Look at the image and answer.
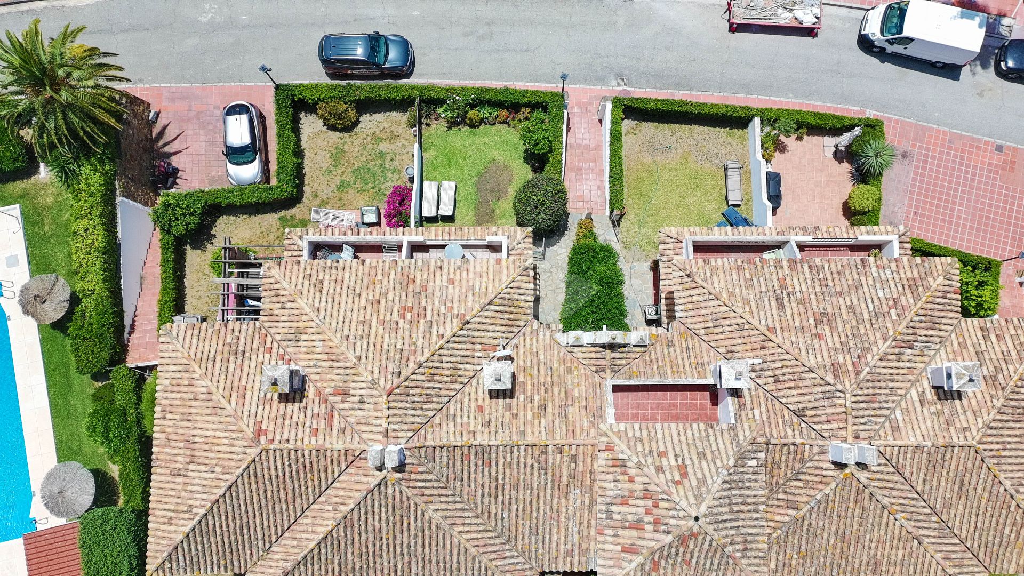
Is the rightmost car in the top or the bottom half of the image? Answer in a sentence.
The top half of the photo is where the rightmost car is.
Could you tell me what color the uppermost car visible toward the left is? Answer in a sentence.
The uppermost car visible toward the left looks blue in the image.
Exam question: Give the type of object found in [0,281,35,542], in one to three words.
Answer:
swimming pool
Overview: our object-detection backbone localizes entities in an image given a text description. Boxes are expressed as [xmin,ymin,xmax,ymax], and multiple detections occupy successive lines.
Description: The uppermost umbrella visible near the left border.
[18,272,74,327]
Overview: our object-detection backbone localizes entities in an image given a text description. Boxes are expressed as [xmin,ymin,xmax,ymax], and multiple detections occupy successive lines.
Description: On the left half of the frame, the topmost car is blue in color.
[317,30,415,81]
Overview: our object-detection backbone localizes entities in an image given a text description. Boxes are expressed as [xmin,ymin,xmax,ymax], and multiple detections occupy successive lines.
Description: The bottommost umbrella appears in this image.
[35,461,94,522]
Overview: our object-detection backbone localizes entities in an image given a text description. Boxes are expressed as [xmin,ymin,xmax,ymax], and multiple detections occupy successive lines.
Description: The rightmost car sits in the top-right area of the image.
[991,44,1024,89]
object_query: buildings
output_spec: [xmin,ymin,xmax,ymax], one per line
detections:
[21,518,87,576]
[139,226,607,576]
[657,225,1024,576]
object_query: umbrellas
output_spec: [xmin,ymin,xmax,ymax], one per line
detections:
[823,118,871,158]
[35,461,94,522]
[18,272,74,327]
